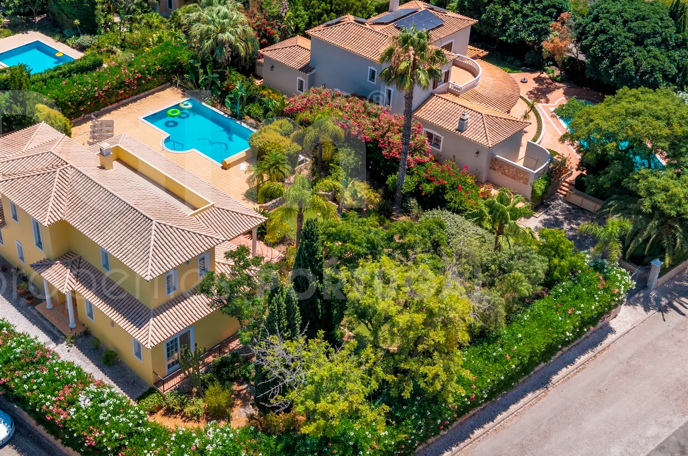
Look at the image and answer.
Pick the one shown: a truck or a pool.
pool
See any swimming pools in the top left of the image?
Yes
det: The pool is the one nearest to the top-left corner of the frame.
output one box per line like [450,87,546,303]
[0,37,77,73]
